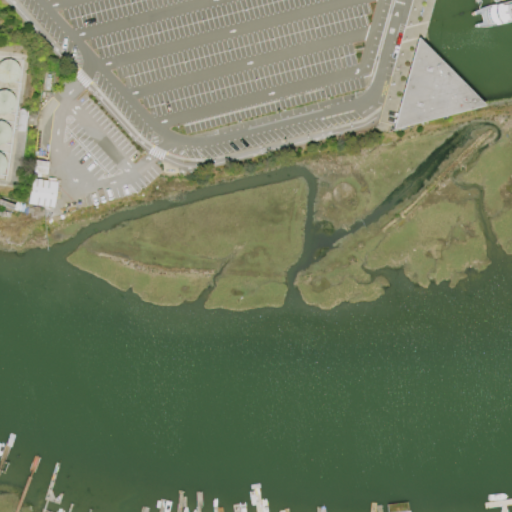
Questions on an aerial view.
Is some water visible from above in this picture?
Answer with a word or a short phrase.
Yes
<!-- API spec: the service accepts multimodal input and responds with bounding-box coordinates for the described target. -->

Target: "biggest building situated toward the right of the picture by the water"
[394,36,488,128]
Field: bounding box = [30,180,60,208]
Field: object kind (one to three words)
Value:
building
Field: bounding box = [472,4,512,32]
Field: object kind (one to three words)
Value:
ship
